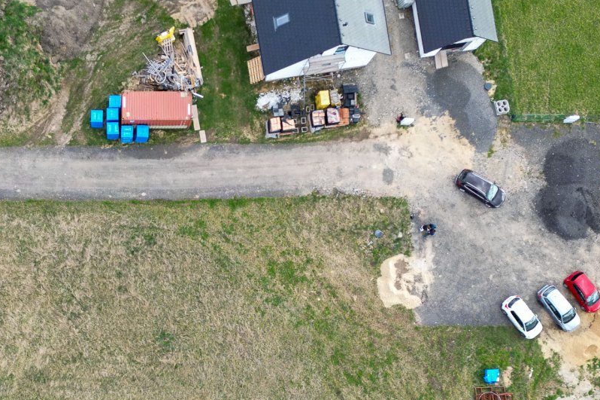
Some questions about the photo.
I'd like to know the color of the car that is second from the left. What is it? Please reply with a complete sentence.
In this view, the car that is second from the left is white.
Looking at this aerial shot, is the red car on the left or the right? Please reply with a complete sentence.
The red car is on the right side of the image.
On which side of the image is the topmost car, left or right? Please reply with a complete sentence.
The topmost car appears in the right half of the scene.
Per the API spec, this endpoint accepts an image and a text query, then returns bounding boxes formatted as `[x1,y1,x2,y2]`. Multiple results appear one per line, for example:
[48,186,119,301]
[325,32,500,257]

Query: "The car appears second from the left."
[501,294,542,340]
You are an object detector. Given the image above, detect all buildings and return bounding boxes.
[247,0,392,84]
[409,0,499,59]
